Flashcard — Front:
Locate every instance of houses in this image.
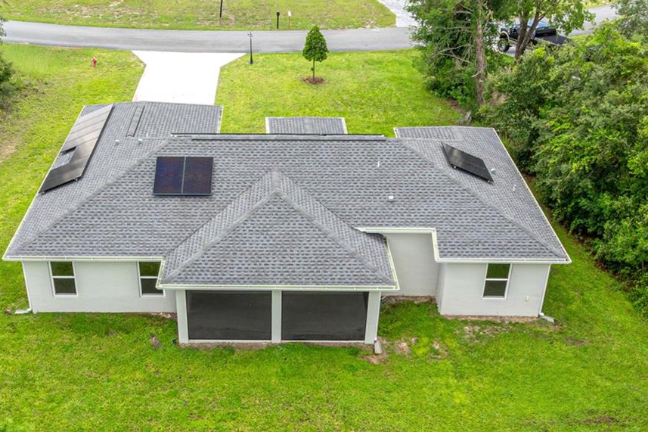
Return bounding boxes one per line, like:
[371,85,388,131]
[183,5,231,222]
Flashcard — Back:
[2,101,572,346]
